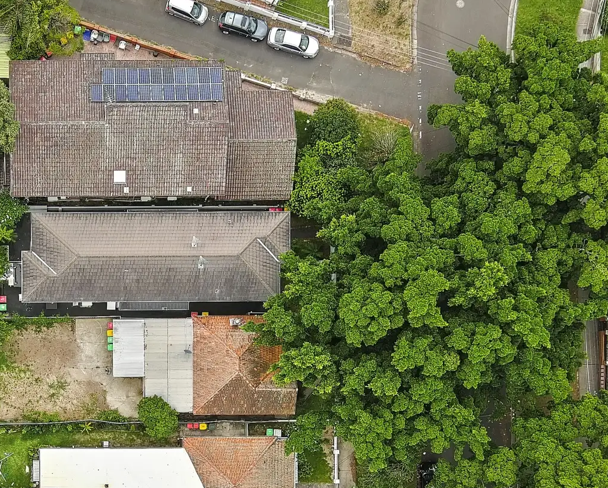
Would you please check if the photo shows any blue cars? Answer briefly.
No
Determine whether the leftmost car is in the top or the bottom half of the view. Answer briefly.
top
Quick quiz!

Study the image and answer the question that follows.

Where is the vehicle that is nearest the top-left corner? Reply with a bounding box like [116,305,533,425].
[162,0,211,26]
